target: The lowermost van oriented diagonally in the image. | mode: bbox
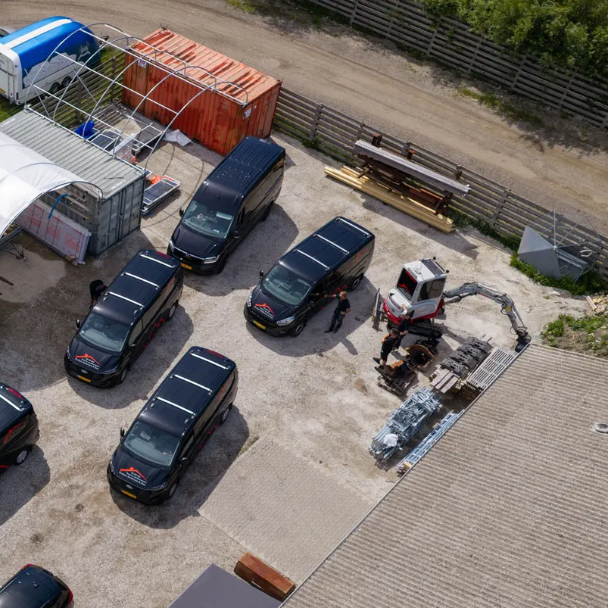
[108,344,241,504]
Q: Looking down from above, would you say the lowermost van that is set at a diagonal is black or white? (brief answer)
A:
black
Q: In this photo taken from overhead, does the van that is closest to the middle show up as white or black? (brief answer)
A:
black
